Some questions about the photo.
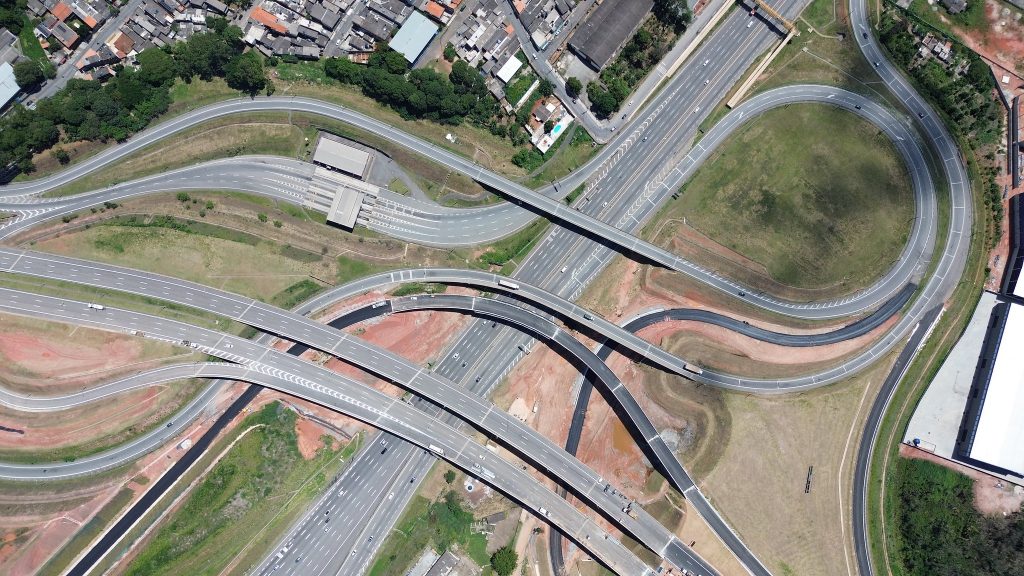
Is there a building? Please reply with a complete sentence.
Yes, the frame does contain a building.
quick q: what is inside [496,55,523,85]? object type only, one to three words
house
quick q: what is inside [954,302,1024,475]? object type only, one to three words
building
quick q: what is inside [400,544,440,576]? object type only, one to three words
shed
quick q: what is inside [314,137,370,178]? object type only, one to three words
building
